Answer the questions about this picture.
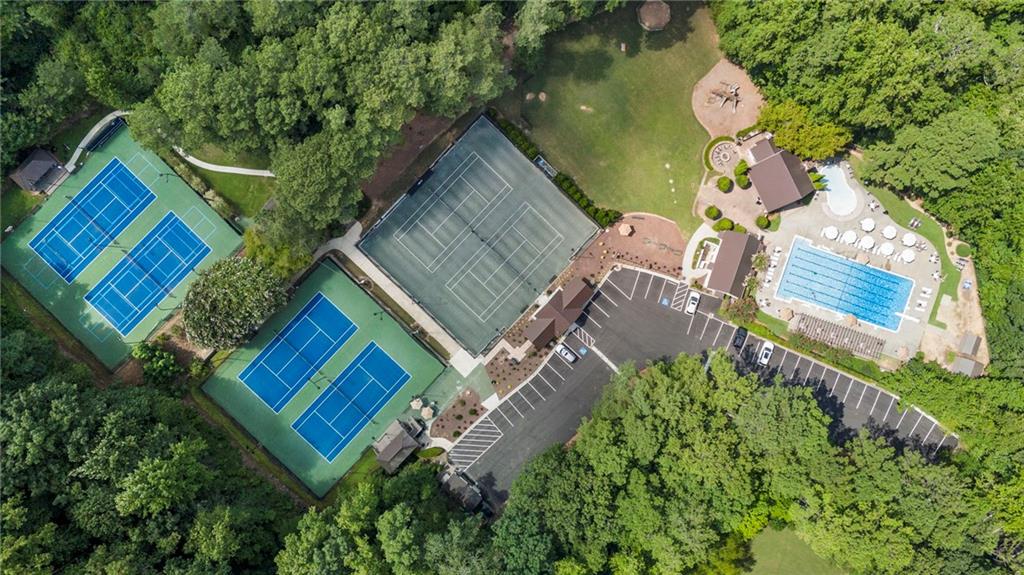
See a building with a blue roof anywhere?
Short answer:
No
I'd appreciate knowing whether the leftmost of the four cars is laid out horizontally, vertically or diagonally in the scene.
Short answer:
diagonally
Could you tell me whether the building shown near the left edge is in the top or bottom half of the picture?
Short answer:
top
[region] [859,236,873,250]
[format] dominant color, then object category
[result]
white umbrella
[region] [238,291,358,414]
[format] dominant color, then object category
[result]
blue tennis court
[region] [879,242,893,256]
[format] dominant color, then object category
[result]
white umbrella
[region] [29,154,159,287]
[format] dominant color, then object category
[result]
blue tennis court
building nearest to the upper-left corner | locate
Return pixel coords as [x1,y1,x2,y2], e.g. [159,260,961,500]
[9,145,61,194]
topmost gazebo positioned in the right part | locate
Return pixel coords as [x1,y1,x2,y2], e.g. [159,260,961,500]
[637,0,669,34]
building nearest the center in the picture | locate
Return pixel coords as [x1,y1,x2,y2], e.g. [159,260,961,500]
[522,274,599,353]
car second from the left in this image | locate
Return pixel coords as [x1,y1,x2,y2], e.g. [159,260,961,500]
[685,291,699,315]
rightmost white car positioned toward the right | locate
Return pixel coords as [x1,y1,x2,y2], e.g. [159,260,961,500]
[757,341,773,366]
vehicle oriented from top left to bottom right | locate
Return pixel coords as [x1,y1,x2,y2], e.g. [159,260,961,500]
[555,344,577,365]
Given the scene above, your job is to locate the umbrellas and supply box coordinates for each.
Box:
[859,236,873,250]
[856,253,868,265]
[860,217,874,231]
[779,308,792,321]
[882,226,896,239]
[842,230,856,244]
[879,242,893,256]
[619,223,633,236]
[422,407,434,420]
[824,226,838,240]
[901,234,915,247]
[844,315,856,325]
[410,397,422,410]
[900,249,914,263]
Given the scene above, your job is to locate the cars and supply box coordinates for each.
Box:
[685,291,699,315]
[555,344,577,365]
[732,326,747,350]
[757,341,773,366]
